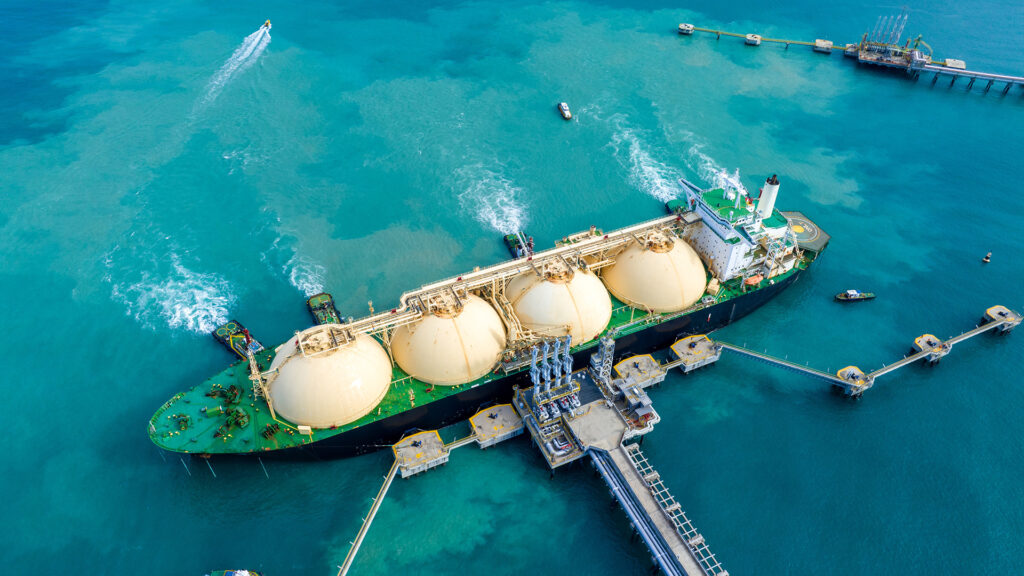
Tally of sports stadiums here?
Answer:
0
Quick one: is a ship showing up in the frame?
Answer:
Yes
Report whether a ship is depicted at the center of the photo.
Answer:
Yes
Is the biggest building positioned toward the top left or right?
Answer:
right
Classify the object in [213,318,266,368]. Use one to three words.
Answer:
boat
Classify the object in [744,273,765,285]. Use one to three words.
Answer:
boat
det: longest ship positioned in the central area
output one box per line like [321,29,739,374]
[147,169,831,467]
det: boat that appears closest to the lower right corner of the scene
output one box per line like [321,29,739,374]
[835,288,877,301]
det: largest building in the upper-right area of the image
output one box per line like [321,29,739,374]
[909,50,933,78]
